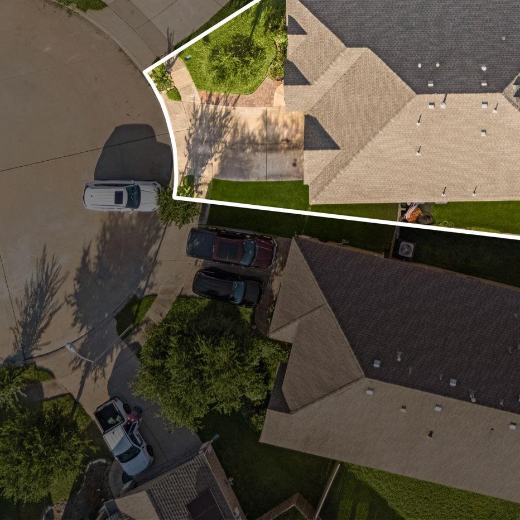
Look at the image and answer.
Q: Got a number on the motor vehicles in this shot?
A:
4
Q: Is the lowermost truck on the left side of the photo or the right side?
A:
left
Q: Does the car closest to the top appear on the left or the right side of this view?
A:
left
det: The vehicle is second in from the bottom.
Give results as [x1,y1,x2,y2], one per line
[191,264,264,307]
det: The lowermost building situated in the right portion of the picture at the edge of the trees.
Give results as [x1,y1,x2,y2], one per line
[259,237,520,504]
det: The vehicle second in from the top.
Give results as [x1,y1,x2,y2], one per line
[184,227,278,270]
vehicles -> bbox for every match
[83,179,162,214]
[184,227,278,270]
[90,389,158,478]
[191,264,264,307]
